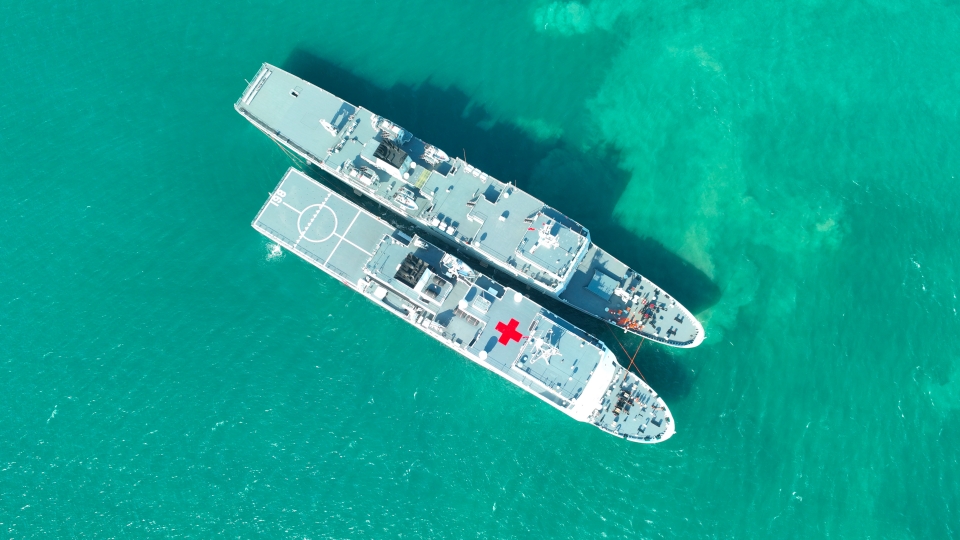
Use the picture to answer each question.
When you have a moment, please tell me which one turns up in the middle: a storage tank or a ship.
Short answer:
ship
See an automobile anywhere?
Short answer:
No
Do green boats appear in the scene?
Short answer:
No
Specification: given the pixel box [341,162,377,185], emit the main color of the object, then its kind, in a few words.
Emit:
white boat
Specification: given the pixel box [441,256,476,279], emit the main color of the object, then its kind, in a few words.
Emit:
white boat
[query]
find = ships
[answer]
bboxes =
[248,167,682,442]
[232,64,708,349]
